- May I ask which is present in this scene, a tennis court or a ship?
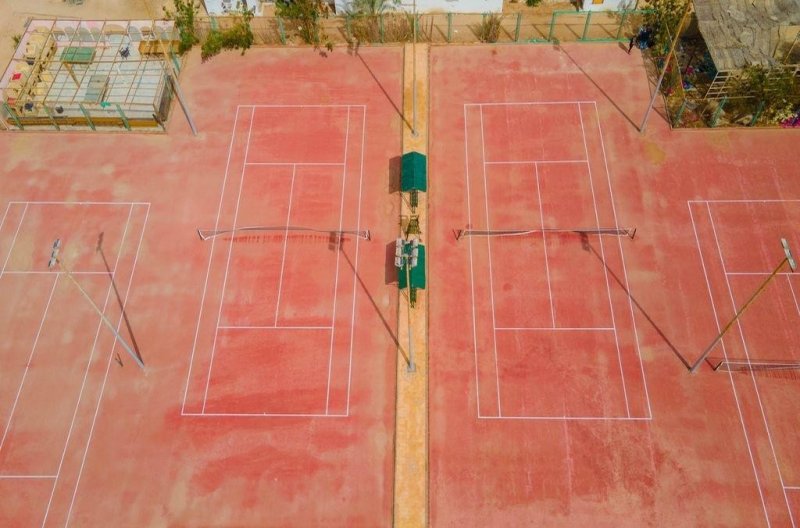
tennis court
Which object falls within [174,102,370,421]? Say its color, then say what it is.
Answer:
red tennis court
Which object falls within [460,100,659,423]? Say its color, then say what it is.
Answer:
red tennis court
